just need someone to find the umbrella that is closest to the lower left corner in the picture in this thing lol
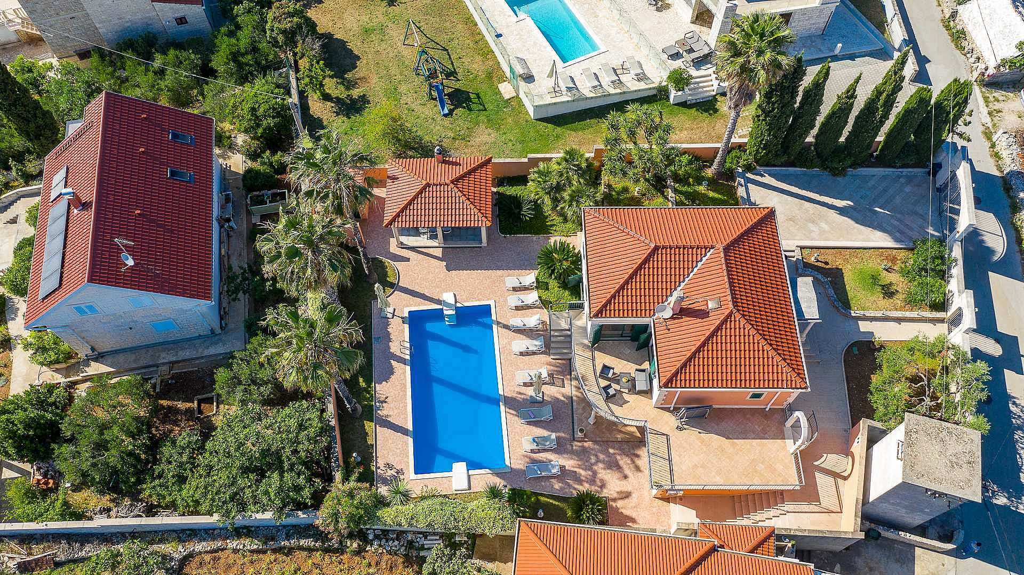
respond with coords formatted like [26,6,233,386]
[376,285,394,318]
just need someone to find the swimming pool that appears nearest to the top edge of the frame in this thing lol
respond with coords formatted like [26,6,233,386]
[510,0,598,63]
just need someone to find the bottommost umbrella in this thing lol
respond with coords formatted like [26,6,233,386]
[529,372,543,404]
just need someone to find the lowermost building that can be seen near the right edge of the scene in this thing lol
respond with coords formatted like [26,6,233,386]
[868,414,981,518]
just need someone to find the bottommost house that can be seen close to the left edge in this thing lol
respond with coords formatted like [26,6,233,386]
[20,89,237,358]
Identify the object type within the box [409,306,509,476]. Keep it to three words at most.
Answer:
swimming pool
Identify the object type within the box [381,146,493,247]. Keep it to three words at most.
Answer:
gazebo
